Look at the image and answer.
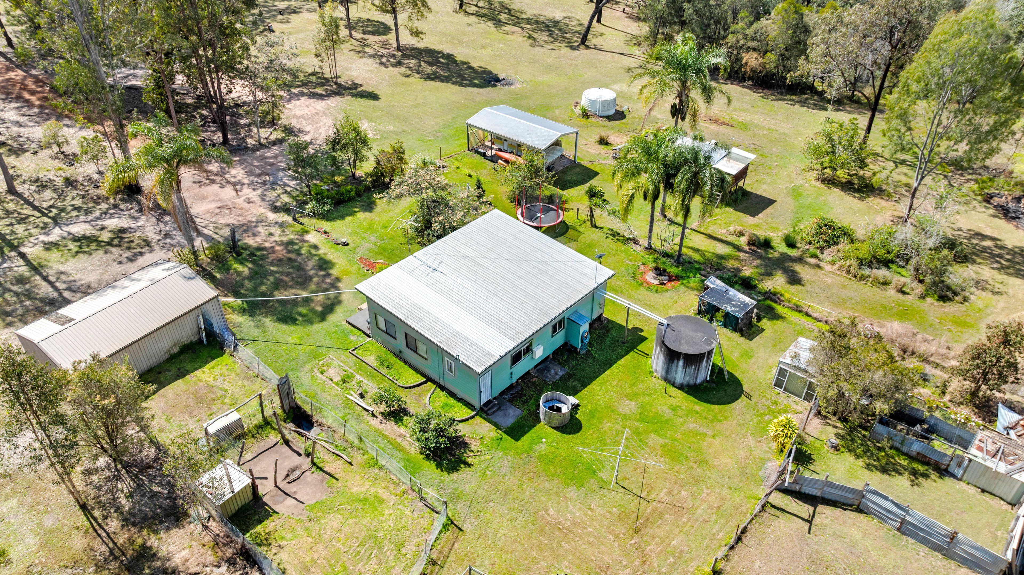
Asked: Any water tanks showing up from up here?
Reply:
Yes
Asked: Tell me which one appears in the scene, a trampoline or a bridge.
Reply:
trampoline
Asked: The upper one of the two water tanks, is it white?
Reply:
Yes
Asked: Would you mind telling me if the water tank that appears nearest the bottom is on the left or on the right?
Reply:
right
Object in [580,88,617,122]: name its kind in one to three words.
water tank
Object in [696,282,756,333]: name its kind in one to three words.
house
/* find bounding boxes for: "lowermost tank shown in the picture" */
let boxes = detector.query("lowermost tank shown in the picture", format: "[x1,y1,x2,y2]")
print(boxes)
[649,318,720,393]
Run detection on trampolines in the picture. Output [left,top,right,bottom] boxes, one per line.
[516,182,565,234]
